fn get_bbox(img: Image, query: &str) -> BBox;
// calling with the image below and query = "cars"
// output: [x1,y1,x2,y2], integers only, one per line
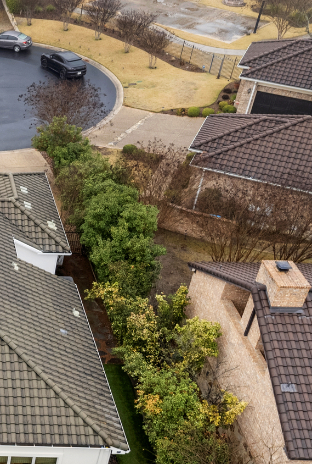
[39,52,88,81]
[0,30,33,55]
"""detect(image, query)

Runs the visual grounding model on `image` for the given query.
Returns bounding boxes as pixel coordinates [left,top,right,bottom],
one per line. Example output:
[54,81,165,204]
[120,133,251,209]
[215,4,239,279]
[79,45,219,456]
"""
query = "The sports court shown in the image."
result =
[96,0,273,43]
